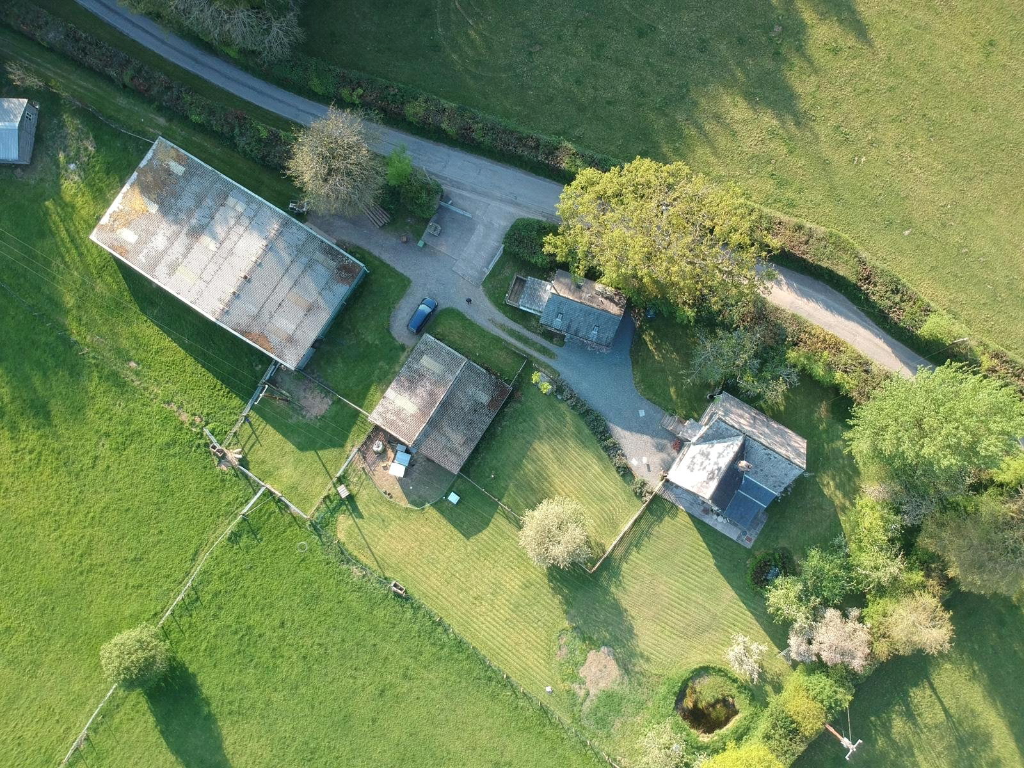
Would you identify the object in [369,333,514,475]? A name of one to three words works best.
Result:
barn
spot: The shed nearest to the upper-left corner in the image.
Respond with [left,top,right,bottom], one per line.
[0,96,37,165]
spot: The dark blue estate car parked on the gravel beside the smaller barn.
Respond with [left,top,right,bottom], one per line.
[406,296,438,337]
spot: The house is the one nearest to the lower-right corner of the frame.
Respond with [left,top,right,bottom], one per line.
[665,391,812,526]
